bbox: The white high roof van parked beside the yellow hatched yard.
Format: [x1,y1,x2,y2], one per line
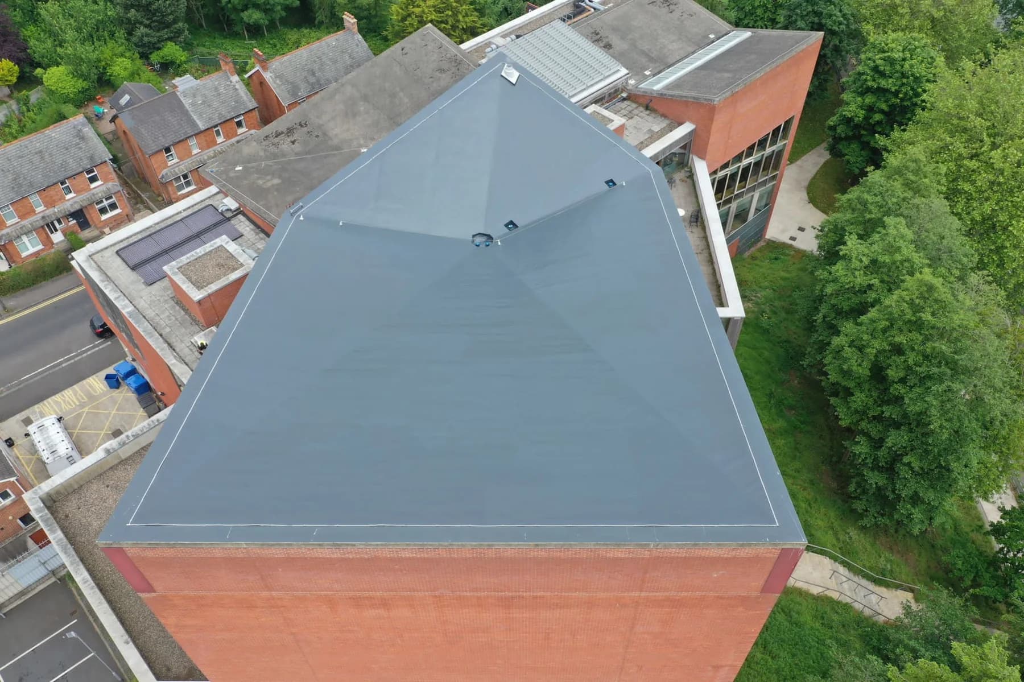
[24,414,86,480]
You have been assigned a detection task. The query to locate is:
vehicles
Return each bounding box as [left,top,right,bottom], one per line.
[88,307,115,336]
[24,414,86,480]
